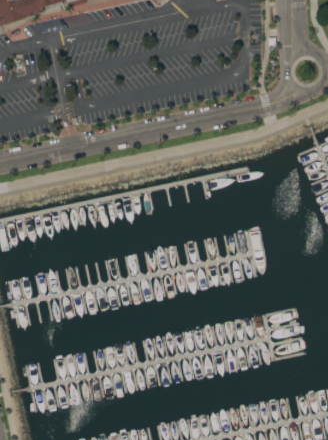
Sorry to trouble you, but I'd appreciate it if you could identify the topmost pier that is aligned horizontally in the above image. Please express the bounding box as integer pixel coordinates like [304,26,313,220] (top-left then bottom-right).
[0,166,249,242]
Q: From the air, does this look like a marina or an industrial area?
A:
marina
